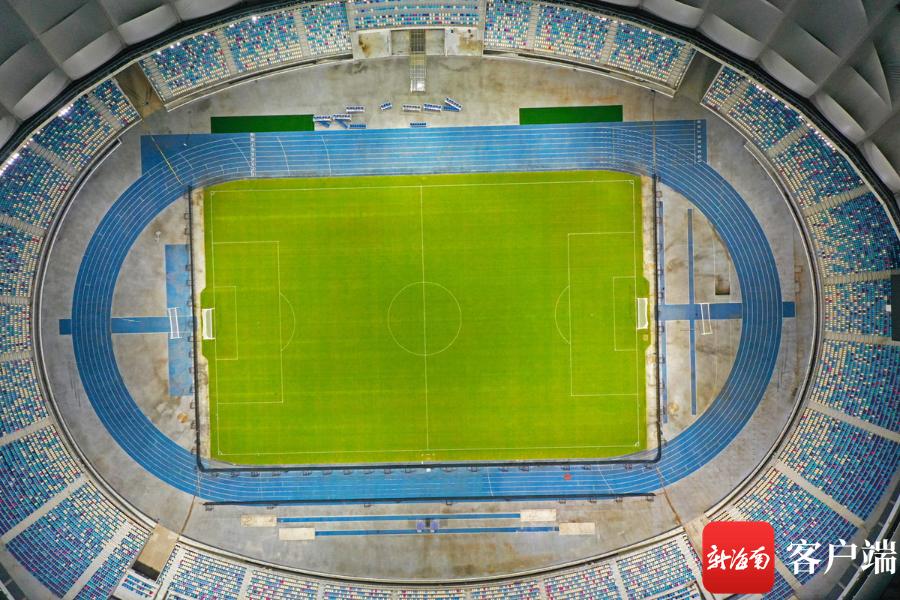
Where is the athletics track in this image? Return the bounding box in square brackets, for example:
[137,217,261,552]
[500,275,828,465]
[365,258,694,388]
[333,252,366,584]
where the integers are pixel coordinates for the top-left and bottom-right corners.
[69,119,782,510]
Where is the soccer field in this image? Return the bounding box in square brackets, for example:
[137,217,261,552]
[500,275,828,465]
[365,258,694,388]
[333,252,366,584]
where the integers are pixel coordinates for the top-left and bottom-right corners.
[191,169,660,467]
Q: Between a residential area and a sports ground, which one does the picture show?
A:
sports ground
